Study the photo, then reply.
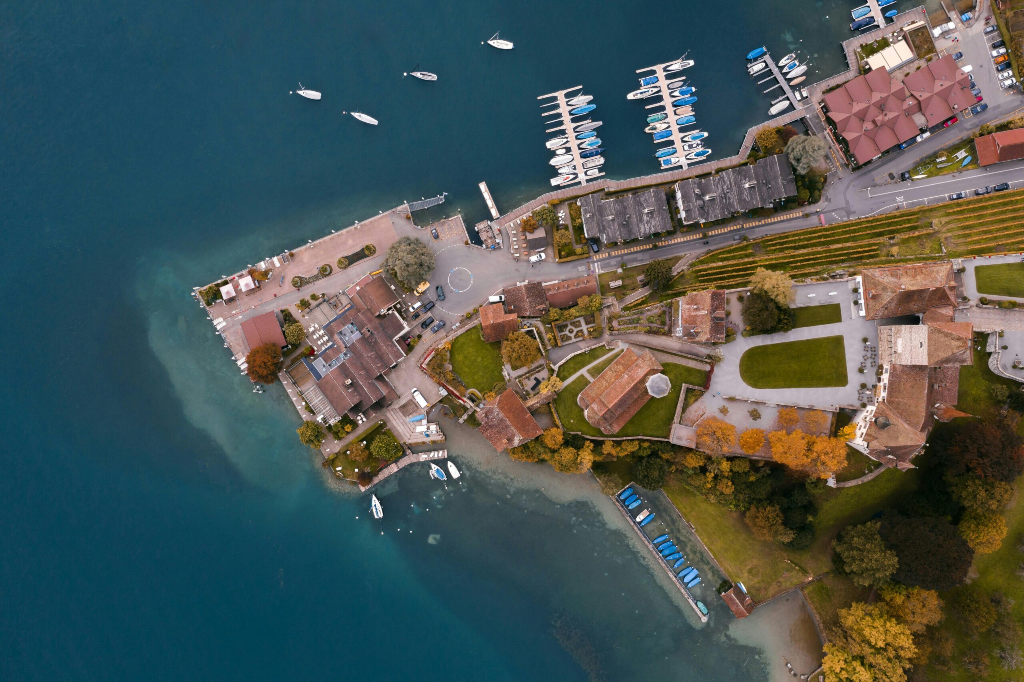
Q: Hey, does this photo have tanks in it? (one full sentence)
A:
No, the picture doesn't show any tank.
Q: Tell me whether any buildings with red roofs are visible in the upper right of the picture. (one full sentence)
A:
Yes, looking in the upper right of the picture, one can make out a building with a red roof.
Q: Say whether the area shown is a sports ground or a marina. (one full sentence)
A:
This image shows a marina.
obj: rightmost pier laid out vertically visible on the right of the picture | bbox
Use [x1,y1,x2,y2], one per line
[635,58,707,170]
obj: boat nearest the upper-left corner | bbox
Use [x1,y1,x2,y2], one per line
[297,84,322,99]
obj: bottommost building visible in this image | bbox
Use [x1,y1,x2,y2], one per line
[719,582,755,620]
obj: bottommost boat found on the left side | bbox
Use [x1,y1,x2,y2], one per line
[368,494,382,519]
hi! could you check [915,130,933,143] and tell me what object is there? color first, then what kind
white vehicle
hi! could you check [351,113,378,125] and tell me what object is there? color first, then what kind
white boat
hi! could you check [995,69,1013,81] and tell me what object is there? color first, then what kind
white vehicle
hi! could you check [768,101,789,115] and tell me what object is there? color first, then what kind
white boat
